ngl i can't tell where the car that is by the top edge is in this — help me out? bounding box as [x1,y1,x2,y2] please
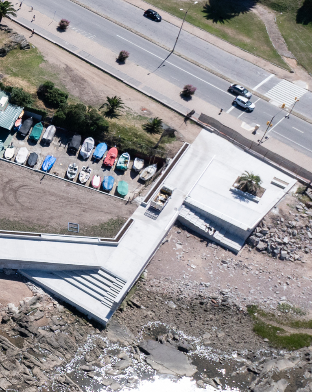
[141,7,167,23]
